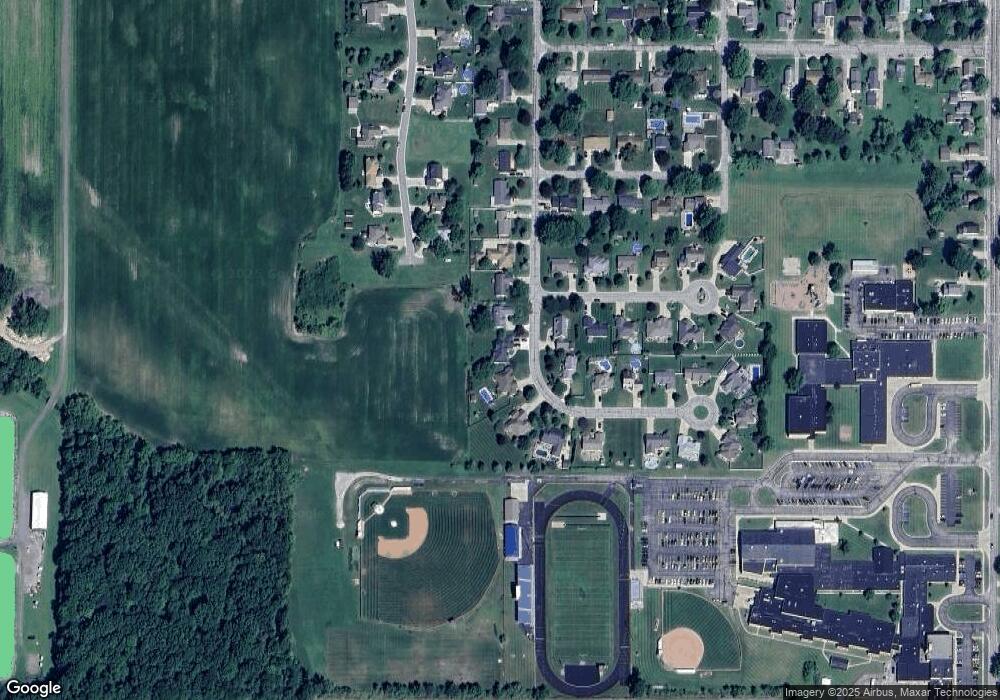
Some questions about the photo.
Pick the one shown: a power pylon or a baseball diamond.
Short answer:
baseball diamond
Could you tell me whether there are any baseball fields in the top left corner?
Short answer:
No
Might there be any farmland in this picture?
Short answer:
Yes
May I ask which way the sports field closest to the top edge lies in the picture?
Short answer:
horizontally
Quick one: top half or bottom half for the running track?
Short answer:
bottom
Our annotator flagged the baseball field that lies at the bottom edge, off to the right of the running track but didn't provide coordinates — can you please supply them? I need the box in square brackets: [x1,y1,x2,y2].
[663,590,741,670]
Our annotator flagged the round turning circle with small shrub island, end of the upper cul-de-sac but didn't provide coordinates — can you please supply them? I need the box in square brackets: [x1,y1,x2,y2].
[684,279,719,314]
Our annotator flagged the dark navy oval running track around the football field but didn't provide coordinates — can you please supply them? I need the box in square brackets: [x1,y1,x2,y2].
[535,483,629,696]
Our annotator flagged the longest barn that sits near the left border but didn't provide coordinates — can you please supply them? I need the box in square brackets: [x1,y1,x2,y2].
[32,491,47,530]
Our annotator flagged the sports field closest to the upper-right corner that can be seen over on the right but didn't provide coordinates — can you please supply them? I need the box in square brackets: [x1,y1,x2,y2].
[779,190,922,252]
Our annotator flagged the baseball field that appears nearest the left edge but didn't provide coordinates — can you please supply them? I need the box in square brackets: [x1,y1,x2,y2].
[360,491,498,630]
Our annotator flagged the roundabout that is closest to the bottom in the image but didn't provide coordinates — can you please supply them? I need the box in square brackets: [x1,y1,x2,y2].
[683,394,720,431]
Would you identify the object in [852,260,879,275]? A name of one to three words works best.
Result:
building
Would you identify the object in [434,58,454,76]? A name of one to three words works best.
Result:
house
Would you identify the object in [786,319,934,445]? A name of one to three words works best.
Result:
building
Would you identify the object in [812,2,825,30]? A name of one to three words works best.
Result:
house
